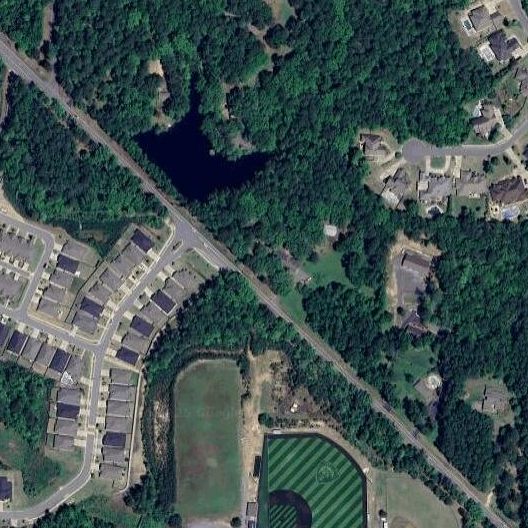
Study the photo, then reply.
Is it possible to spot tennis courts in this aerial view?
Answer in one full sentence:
No, there appears to be no tennis court in this shot.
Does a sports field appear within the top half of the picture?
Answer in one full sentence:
No, I can find no sports field within the top half of the picture.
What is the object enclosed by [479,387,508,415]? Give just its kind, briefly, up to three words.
house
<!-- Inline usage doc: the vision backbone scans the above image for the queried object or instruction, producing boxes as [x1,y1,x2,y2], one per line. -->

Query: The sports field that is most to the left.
[175,359,241,516]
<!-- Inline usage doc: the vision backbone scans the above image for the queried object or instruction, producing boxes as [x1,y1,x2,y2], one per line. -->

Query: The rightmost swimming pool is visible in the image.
[500,203,521,220]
